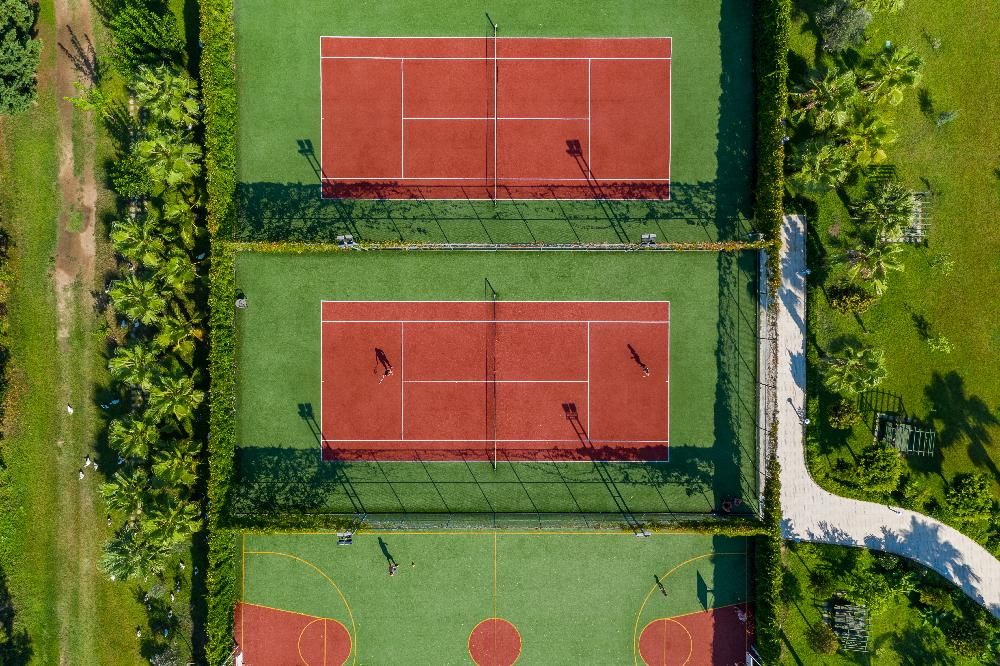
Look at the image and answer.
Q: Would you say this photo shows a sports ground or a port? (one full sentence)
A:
What you see here is a sports ground.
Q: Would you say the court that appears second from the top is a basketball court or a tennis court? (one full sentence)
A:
It looks like the court that appears second from the top is a tennis court.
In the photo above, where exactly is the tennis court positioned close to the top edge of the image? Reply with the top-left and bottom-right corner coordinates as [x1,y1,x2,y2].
[234,0,757,245]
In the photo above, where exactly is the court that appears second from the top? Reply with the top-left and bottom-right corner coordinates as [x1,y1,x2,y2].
[234,250,757,513]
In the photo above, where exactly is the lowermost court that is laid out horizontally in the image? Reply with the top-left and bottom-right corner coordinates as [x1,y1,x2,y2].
[234,514,756,666]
